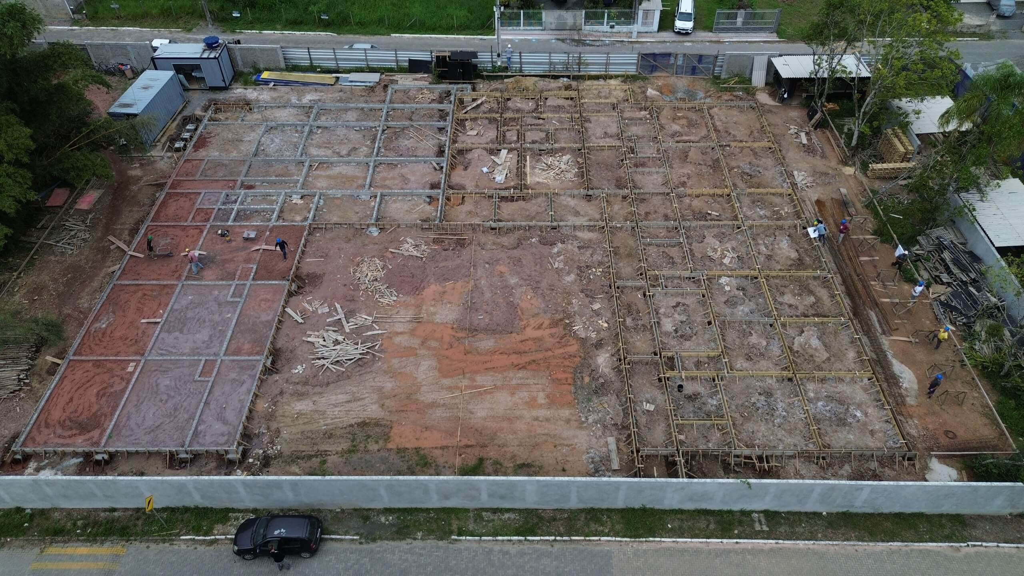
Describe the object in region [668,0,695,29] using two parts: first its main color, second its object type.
white car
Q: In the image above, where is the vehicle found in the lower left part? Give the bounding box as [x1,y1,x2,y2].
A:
[231,512,324,561]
